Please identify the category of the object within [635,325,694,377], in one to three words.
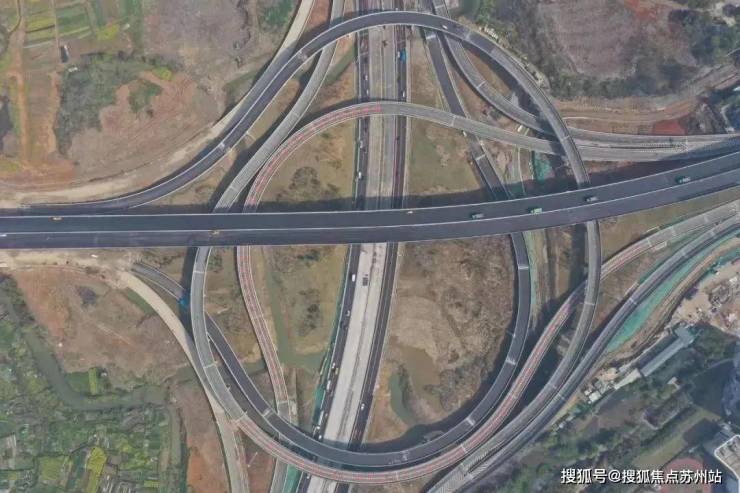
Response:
shed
